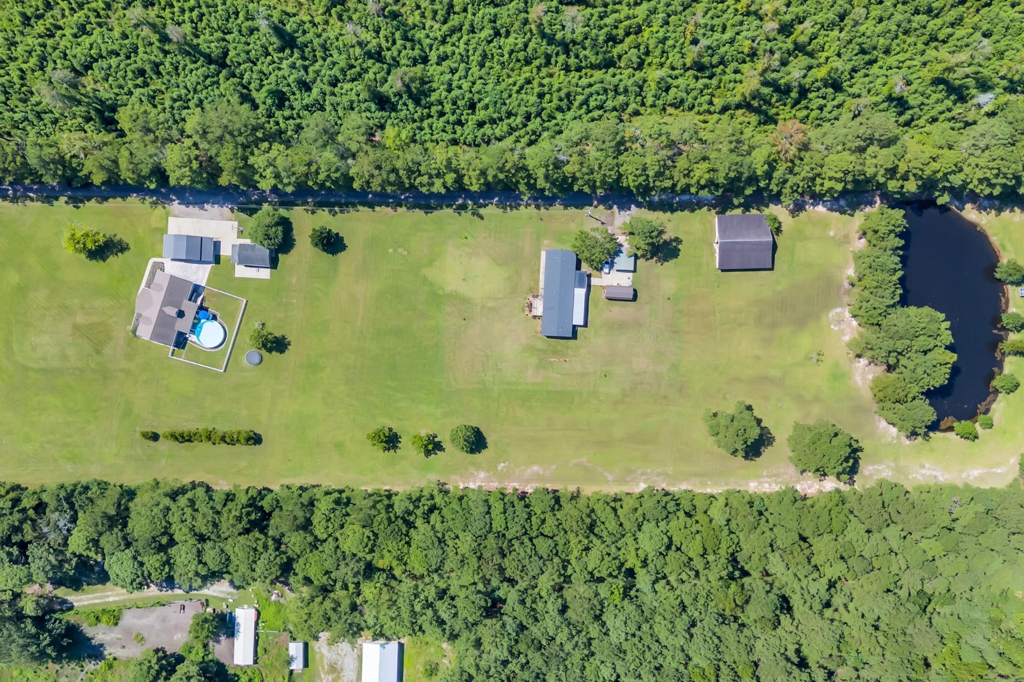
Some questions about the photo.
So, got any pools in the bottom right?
No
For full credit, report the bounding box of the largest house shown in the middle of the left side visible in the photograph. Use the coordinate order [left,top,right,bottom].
[136,271,202,346]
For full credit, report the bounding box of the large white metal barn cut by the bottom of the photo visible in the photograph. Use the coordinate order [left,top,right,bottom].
[363,641,399,682]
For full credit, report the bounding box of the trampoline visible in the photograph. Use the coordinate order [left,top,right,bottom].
[245,350,262,366]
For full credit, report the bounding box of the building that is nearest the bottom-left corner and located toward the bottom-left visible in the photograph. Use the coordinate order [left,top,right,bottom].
[234,606,257,666]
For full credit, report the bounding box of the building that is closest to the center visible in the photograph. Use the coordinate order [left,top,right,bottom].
[532,250,587,337]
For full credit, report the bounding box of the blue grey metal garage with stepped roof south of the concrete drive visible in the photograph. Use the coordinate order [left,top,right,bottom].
[162,234,216,261]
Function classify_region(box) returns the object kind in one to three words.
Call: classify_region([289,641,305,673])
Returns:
shed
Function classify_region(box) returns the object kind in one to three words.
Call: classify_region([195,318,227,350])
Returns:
swimming pool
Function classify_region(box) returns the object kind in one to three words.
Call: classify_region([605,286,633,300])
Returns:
shed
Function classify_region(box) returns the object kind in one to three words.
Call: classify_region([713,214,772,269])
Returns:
barn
